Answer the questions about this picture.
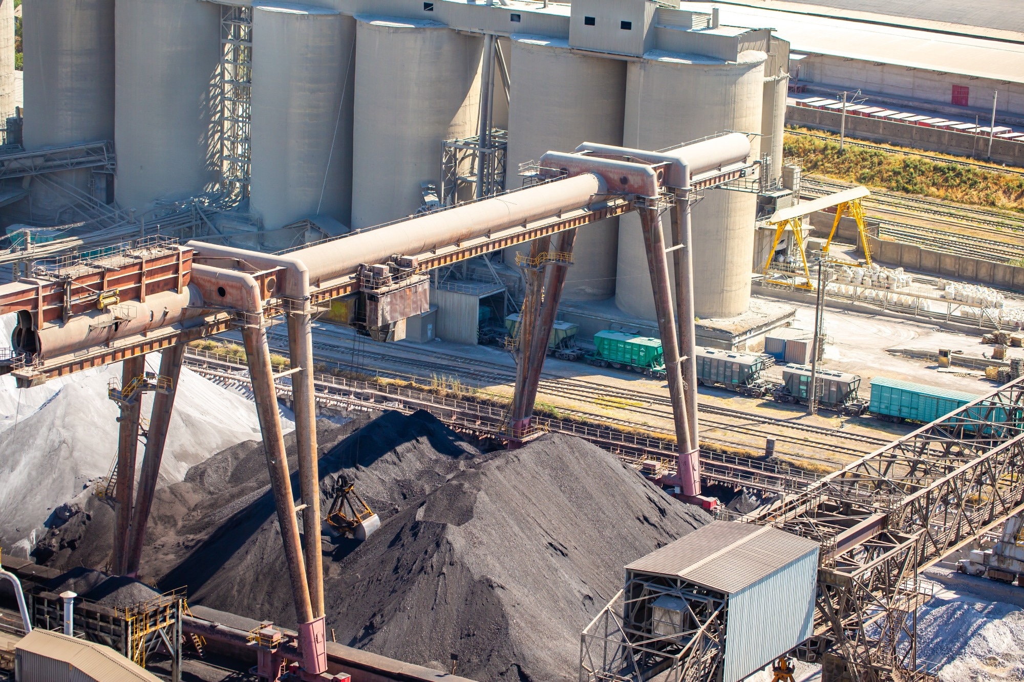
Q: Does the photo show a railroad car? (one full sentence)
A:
Yes, I can see a railroad car in this picture.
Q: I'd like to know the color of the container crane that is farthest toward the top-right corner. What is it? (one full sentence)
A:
The container crane that is farthest toward the top-right corner looks white in the image.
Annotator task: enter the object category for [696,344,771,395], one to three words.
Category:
rail car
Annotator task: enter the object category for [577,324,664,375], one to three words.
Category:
rail car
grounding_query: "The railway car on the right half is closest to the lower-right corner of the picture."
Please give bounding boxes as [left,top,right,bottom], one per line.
[770,361,871,415]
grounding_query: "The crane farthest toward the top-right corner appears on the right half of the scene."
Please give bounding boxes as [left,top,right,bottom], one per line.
[774,178,881,284]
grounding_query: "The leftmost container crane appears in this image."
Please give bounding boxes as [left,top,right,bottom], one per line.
[0,122,799,682]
